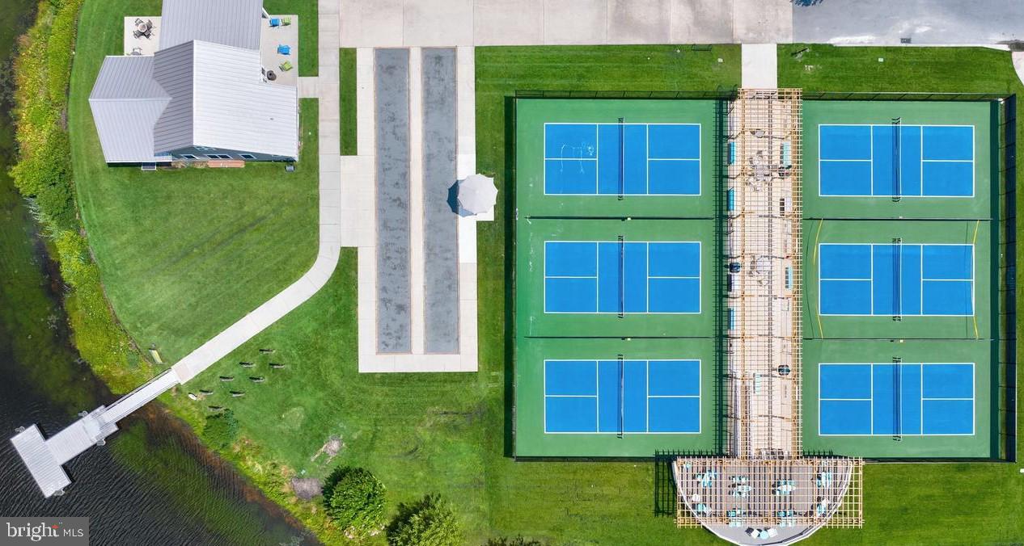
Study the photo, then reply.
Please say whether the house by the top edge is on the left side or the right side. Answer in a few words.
left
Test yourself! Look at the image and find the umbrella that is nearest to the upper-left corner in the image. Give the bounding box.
[455,173,499,216]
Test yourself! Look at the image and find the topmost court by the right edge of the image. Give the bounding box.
[797,100,1000,219]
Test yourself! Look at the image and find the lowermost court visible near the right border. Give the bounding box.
[797,339,1000,457]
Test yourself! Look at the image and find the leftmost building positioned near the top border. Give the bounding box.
[89,0,302,169]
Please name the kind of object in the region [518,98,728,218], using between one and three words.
sports court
